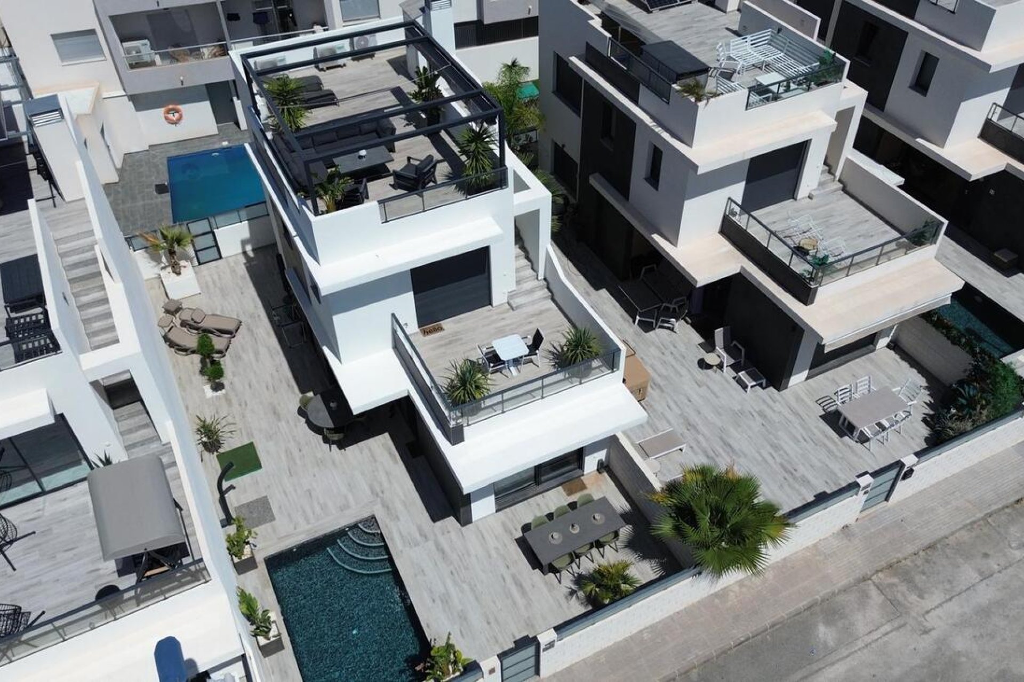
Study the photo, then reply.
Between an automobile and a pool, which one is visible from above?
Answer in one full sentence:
I can see a pool in this picture.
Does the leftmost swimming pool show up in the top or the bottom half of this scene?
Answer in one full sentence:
You can find the leftmost swimming pool in the top half.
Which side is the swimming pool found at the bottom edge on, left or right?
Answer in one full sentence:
The swimming pool found at the bottom edge is on the left side of the image.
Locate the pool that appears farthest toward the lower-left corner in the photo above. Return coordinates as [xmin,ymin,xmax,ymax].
[264,516,436,682]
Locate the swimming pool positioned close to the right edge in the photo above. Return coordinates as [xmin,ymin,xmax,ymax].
[935,300,1009,361]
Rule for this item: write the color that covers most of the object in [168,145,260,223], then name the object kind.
blue swimming pool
